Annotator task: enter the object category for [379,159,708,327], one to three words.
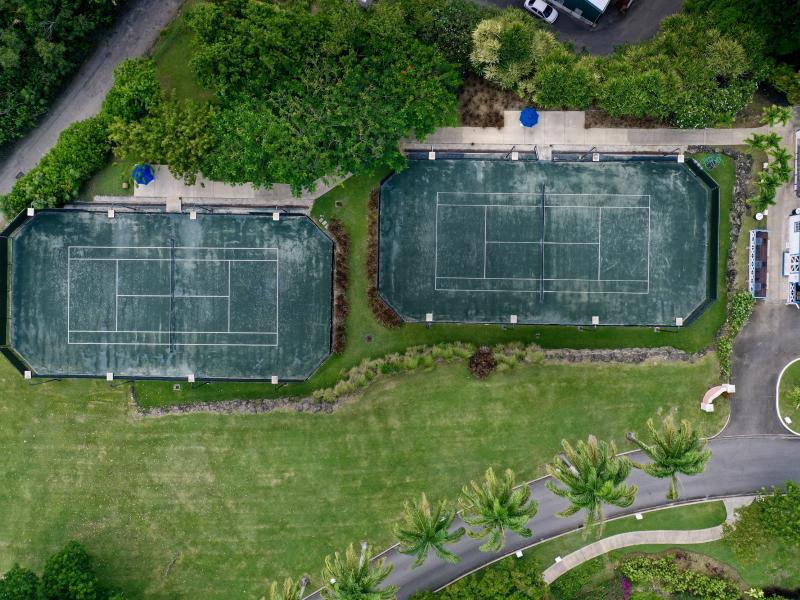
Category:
tennis court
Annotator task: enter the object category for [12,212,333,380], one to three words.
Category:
tennis court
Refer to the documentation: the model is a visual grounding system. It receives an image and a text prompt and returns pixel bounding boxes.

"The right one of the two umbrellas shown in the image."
[517,109,537,128]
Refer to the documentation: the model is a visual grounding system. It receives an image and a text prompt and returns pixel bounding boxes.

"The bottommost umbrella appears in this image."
[134,165,155,186]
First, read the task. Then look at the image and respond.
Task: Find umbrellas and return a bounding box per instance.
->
[517,109,537,128]
[134,165,155,186]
